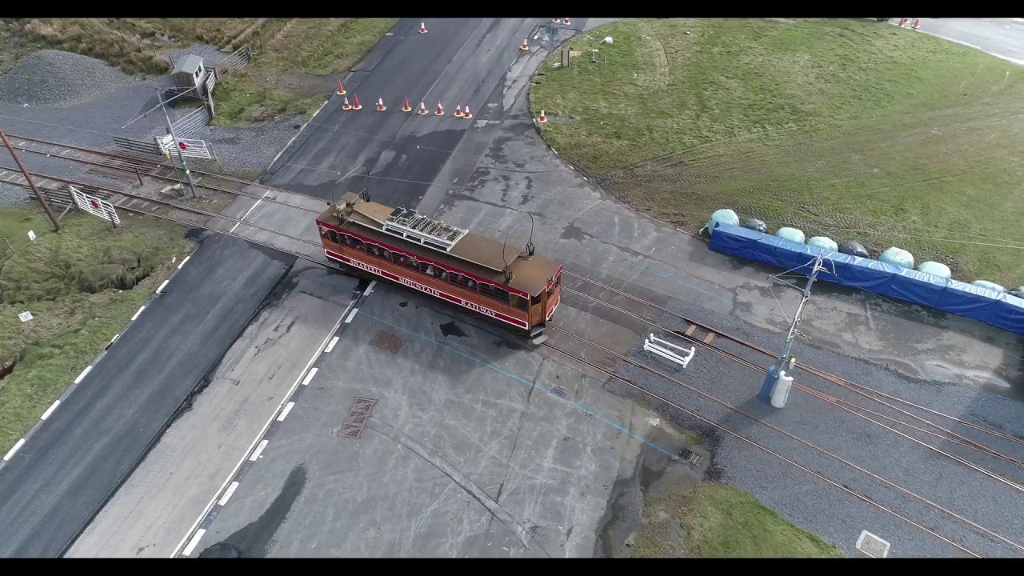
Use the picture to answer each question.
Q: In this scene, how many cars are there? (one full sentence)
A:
There are no cars in the image.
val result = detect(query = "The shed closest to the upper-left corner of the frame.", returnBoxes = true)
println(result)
[169,51,203,101]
